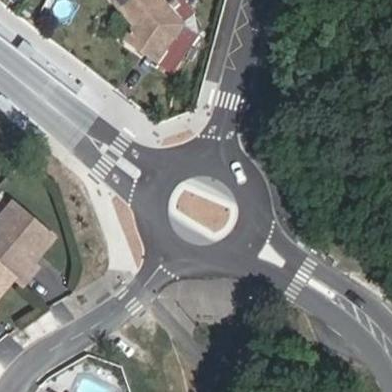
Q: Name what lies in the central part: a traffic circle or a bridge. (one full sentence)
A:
You can see a traffic circle in the central part.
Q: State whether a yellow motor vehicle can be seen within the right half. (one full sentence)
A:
No, looking within the right half, there is no yellow motor vehicle.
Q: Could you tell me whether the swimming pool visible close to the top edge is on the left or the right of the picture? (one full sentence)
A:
It is on the left.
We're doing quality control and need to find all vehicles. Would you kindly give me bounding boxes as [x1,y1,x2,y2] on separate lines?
[126,68,140,89]
[232,162,245,184]
[116,340,136,358]
[346,288,366,306]
[30,280,50,298]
